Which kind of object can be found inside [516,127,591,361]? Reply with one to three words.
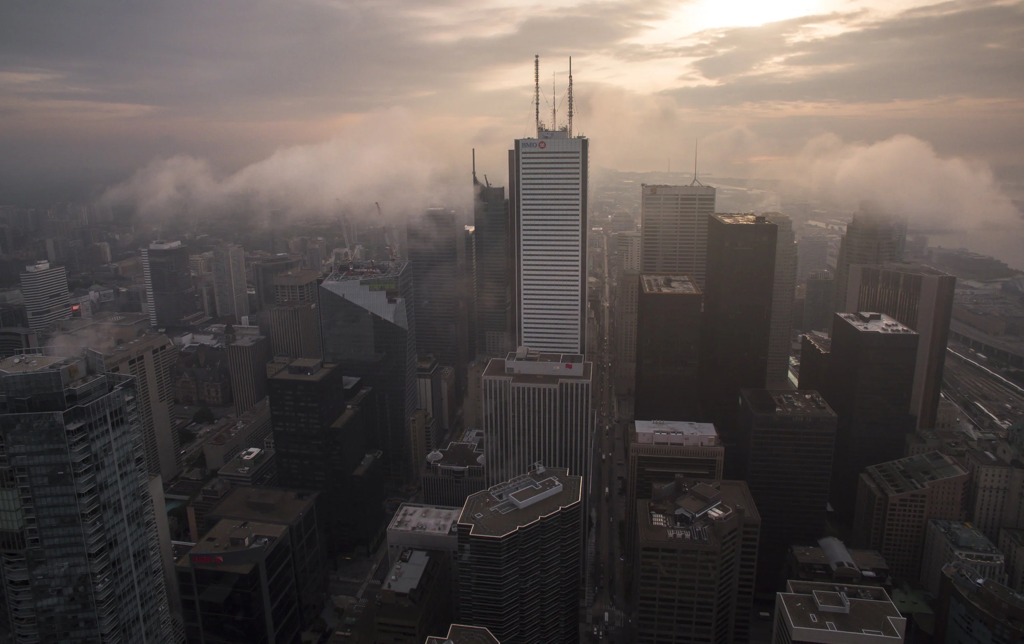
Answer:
building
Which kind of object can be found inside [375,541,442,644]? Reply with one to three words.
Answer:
building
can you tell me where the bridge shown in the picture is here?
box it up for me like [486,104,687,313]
[947,327,1024,368]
